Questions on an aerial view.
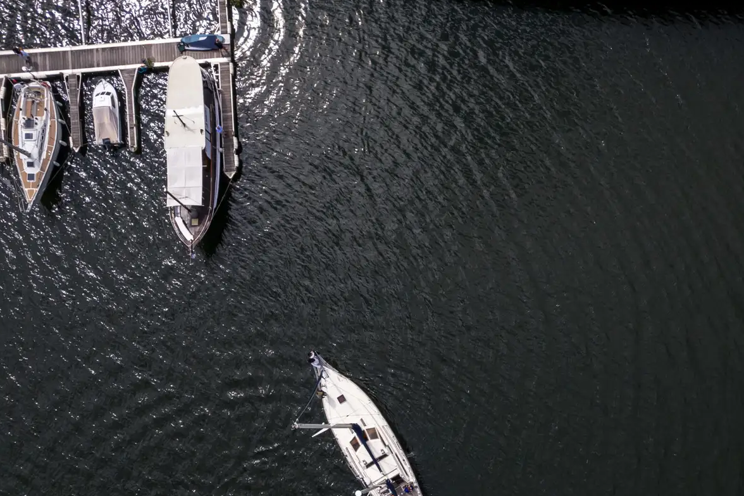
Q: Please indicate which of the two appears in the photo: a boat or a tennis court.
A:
boat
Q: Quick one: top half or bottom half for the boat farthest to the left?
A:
top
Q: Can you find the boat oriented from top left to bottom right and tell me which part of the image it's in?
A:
bottom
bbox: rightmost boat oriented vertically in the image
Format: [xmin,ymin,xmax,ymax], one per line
[164,57,222,256]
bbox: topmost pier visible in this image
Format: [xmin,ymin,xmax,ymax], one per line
[215,0,233,36]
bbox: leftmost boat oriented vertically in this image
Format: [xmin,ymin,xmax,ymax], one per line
[0,66,63,211]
